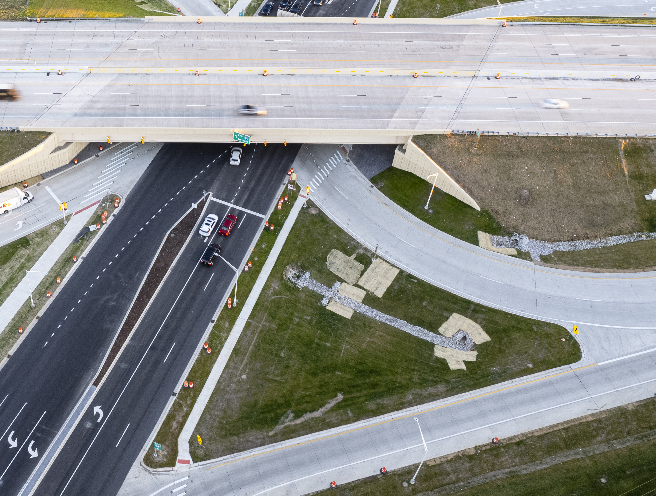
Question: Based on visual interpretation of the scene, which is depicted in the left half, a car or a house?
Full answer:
The feature located in the left half is a car.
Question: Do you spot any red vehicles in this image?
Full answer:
Yes, there's a red vehicle here.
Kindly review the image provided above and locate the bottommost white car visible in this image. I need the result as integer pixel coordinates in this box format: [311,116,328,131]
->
[199,215,219,237]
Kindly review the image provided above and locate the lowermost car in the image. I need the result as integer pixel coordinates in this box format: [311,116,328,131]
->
[200,244,221,269]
